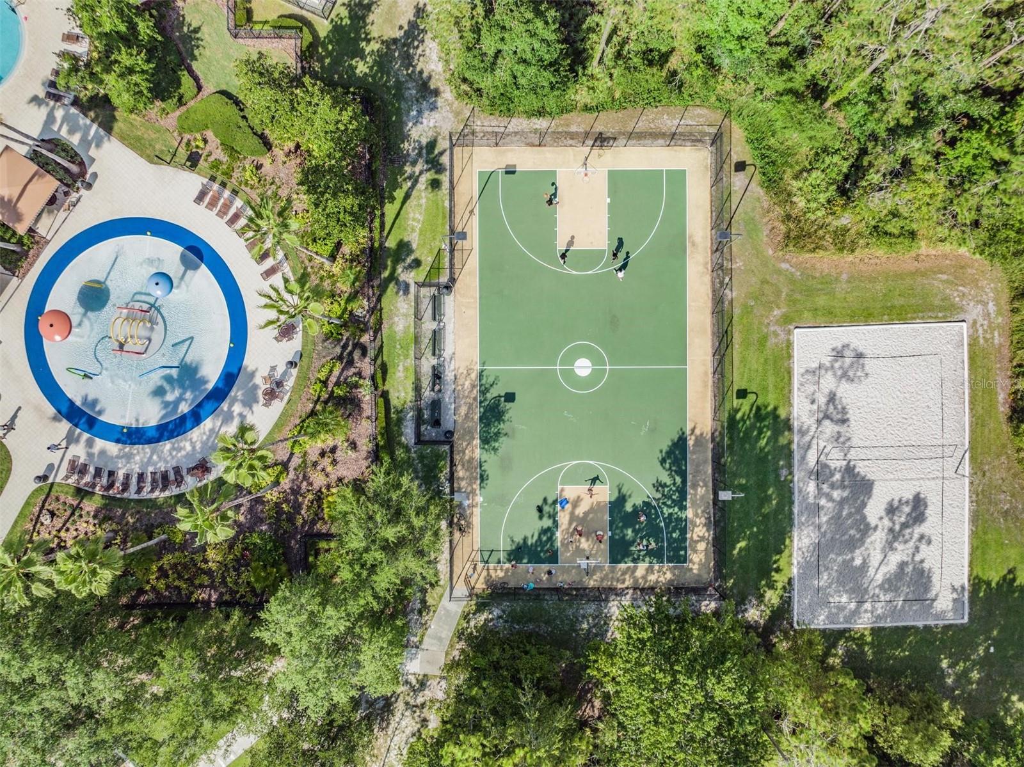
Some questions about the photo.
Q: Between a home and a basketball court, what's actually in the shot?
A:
basketball court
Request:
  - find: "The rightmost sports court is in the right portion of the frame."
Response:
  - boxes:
[795,322,970,627]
